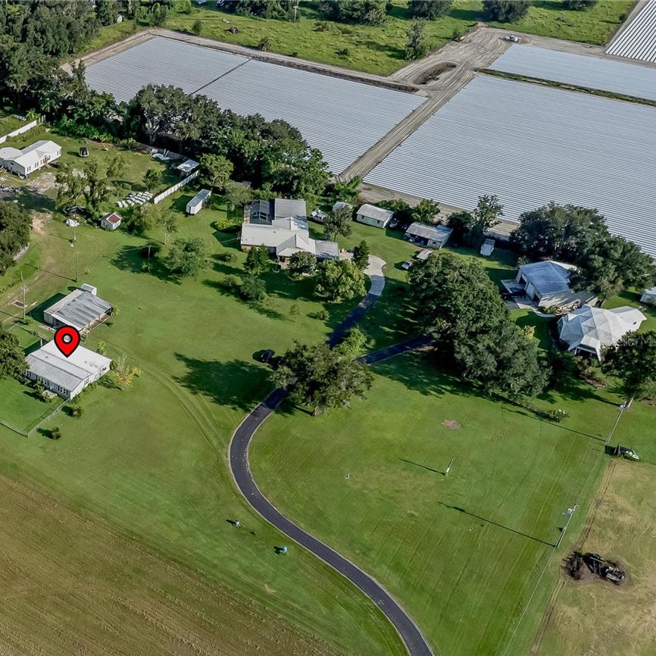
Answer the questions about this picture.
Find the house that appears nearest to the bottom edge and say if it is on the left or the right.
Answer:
left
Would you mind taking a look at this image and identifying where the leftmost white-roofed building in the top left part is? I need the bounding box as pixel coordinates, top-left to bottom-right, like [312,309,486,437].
[0,137,70,178]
